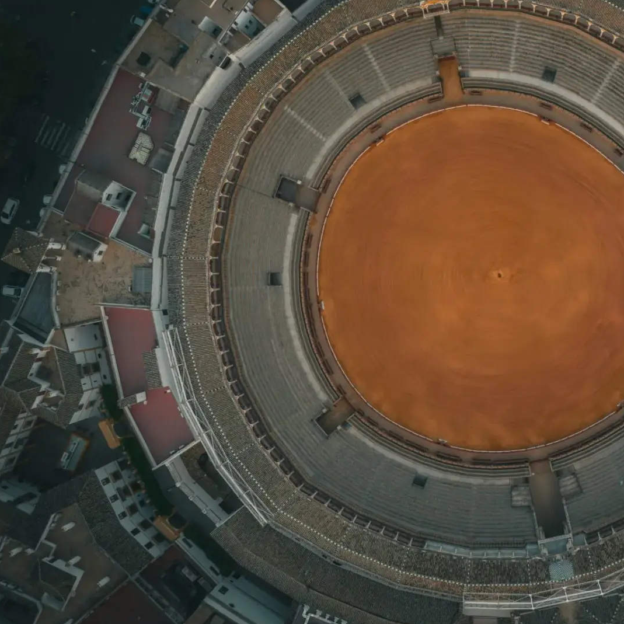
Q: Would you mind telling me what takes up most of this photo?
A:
buildings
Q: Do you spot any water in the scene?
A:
No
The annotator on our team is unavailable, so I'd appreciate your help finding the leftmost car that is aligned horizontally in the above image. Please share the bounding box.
[0,285,25,298]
